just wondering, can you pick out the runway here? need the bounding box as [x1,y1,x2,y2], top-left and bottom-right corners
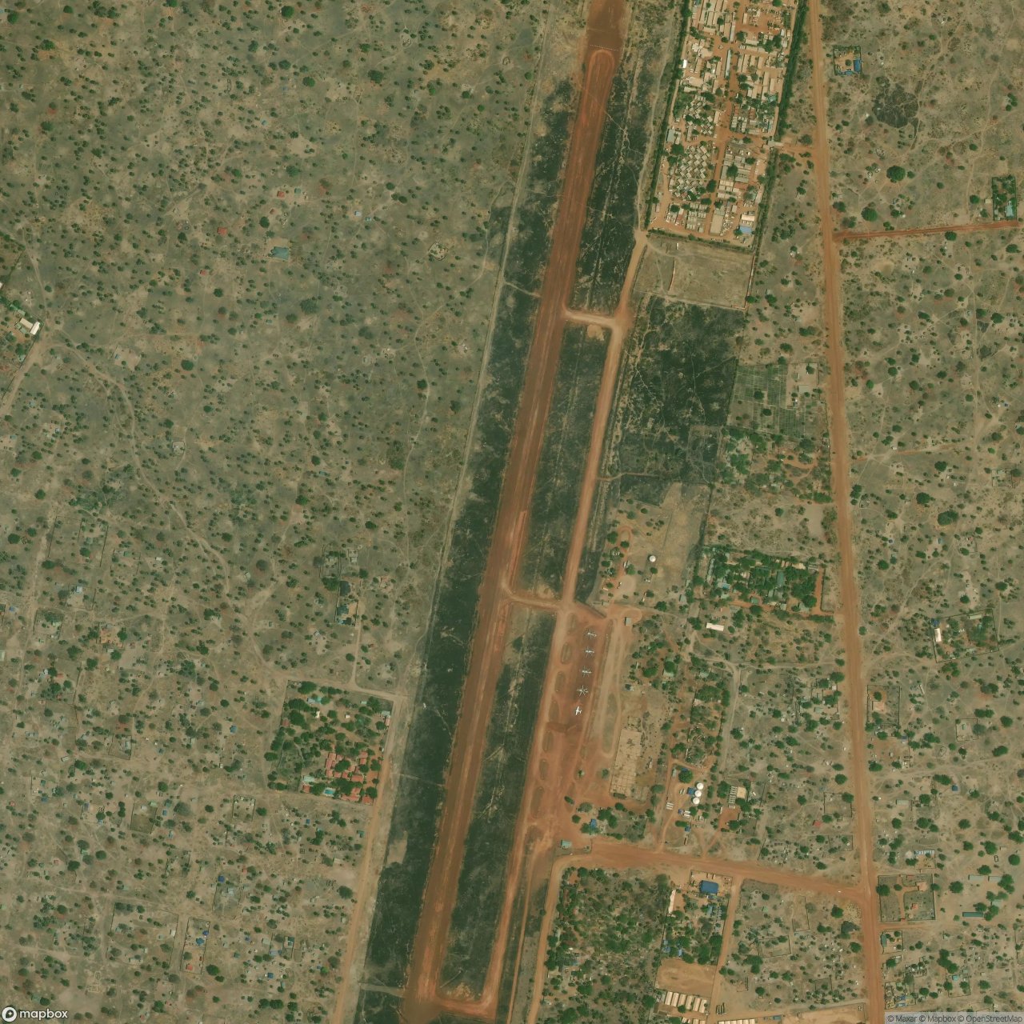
[401,0,622,1024]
